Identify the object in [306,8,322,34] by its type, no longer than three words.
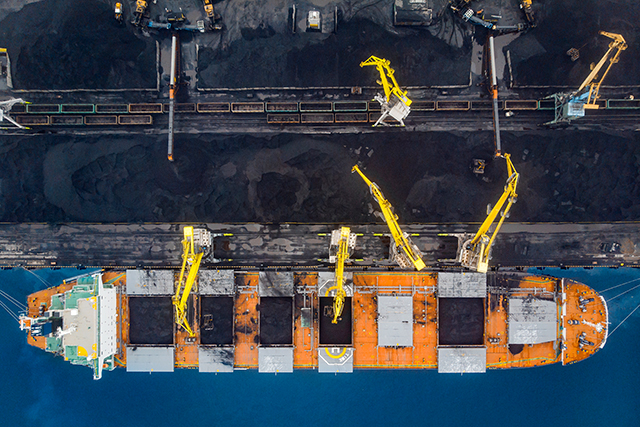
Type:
work vehicle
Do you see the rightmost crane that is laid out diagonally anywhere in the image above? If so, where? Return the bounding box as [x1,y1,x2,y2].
[539,30,628,125]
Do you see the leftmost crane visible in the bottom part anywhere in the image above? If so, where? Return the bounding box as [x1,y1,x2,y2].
[172,227,232,338]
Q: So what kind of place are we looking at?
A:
port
